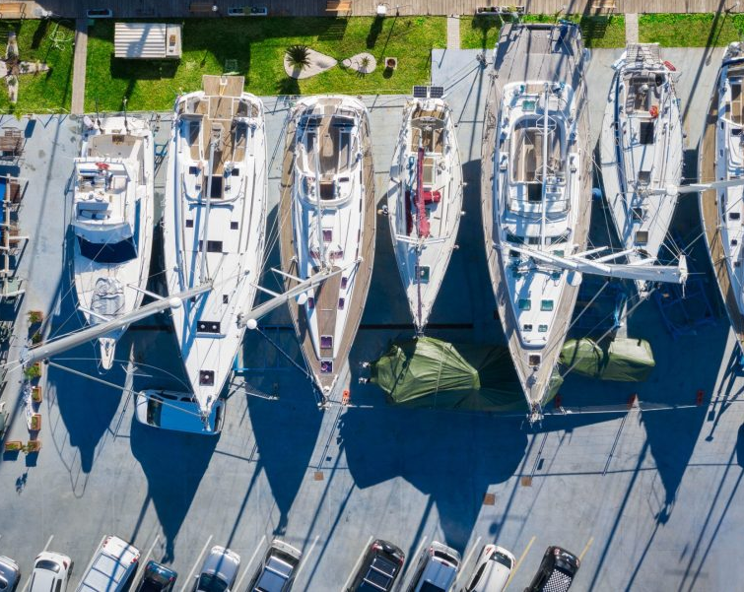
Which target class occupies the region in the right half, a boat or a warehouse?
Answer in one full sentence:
The feature located in the right half is a boat.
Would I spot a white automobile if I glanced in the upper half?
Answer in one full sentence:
No, looking in the upper half, there is no white automobile.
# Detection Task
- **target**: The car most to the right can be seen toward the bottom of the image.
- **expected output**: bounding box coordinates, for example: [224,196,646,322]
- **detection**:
[519,544,581,592]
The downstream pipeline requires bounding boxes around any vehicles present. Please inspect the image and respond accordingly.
[519,544,581,592]
[241,537,305,592]
[342,536,408,592]
[132,557,182,592]
[76,534,146,592]
[185,543,245,592]
[398,536,464,592]
[17,547,76,592]
[455,541,517,592]
[0,553,28,592]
